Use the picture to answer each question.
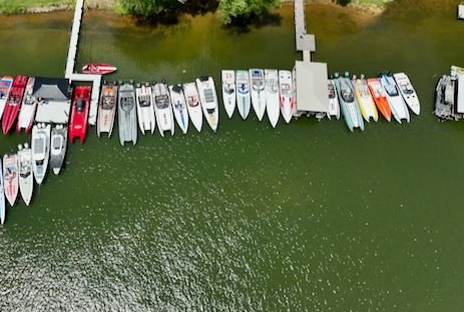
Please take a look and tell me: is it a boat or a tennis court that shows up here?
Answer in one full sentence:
It is a boat that can be seen here.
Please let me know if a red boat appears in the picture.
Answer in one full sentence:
Yes, there's a red boat down there.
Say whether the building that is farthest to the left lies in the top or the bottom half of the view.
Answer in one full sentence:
Seen from above, the building that is farthest to the left lies in the top half of the view.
